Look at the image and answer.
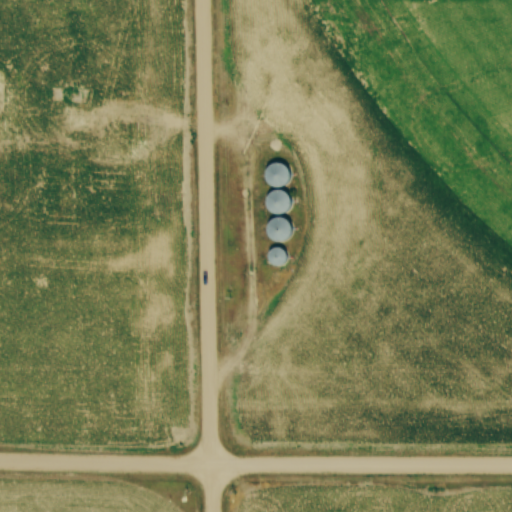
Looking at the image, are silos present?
Yes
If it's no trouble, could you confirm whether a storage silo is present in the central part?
Yes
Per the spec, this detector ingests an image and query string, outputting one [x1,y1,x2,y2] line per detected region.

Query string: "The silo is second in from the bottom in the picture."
[267,217,299,244]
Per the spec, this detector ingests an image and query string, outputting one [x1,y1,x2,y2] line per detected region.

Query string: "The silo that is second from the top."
[266,189,298,216]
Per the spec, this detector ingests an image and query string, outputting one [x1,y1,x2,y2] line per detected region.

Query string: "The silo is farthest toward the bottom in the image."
[268,246,296,268]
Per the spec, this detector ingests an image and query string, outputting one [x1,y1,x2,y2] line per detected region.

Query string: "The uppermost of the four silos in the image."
[265,162,298,189]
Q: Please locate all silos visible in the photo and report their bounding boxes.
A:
[265,162,298,189]
[267,217,299,244]
[266,189,298,216]
[268,246,296,268]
